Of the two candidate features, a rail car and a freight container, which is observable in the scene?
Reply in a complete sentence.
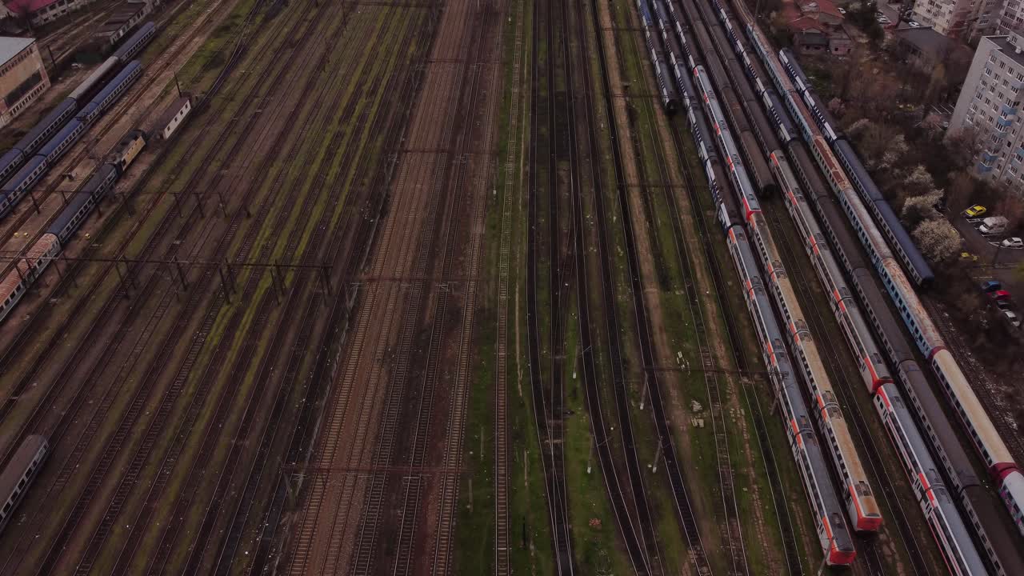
This aerial view contains a rail car.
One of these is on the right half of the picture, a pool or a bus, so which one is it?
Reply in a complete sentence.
Looking on the right half of the picture, you will find a bus.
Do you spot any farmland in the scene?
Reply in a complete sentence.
No, there is no farmland in the image.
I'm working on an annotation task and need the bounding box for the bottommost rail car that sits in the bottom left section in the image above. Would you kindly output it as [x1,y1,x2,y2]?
[0,434,58,549]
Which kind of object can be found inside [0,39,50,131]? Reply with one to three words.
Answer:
building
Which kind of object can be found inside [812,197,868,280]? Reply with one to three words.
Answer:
rail car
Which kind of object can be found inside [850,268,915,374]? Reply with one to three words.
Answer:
rail car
